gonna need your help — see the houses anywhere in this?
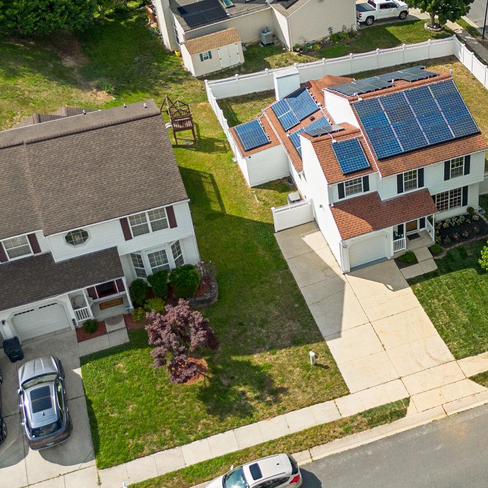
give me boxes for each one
[227,67,488,275]
[159,0,356,51]
[0,96,198,348]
